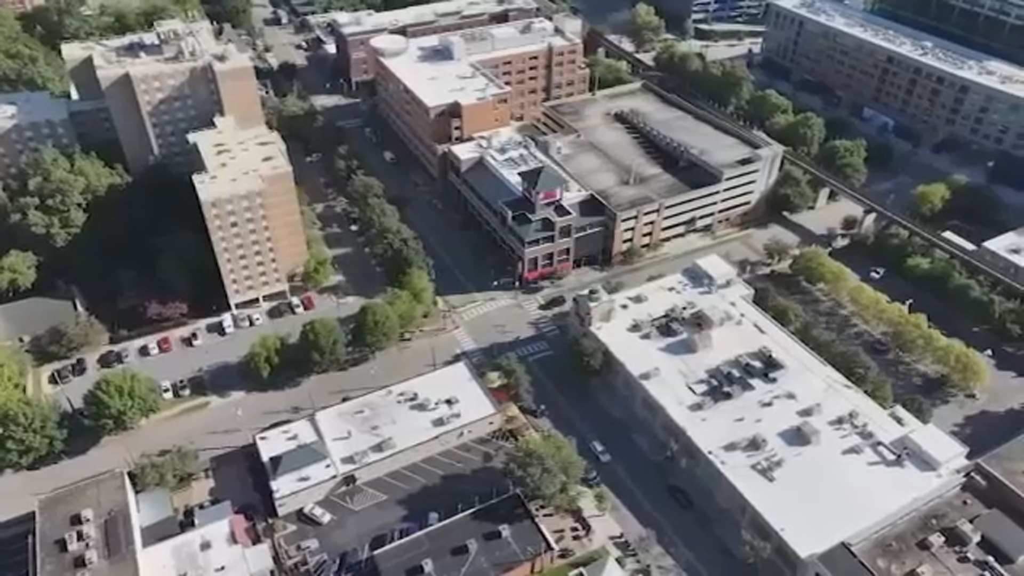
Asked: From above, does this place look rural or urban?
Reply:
urban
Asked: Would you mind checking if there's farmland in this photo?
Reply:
No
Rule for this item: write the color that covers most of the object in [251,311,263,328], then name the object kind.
white vehicle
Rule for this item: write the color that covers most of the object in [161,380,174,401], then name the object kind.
white vehicle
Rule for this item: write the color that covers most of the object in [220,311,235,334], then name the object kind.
white car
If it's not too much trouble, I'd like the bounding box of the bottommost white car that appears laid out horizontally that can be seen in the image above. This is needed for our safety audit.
[299,506,334,524]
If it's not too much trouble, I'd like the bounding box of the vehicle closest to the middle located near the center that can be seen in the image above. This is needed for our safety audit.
[540,294,564,311]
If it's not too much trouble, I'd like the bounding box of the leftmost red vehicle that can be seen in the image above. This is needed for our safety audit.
[158,335,171,354]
